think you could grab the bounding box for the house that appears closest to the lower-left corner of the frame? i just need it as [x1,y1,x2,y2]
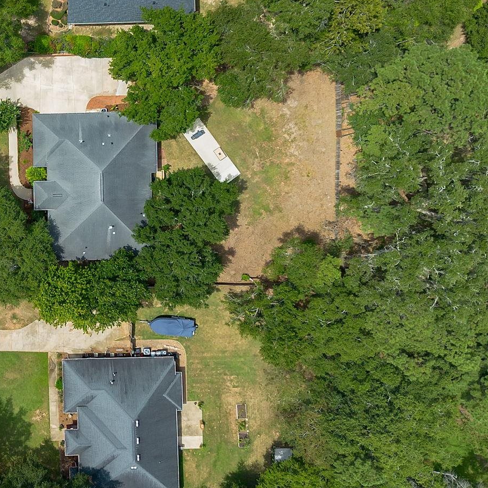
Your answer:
[61,356,183,488]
